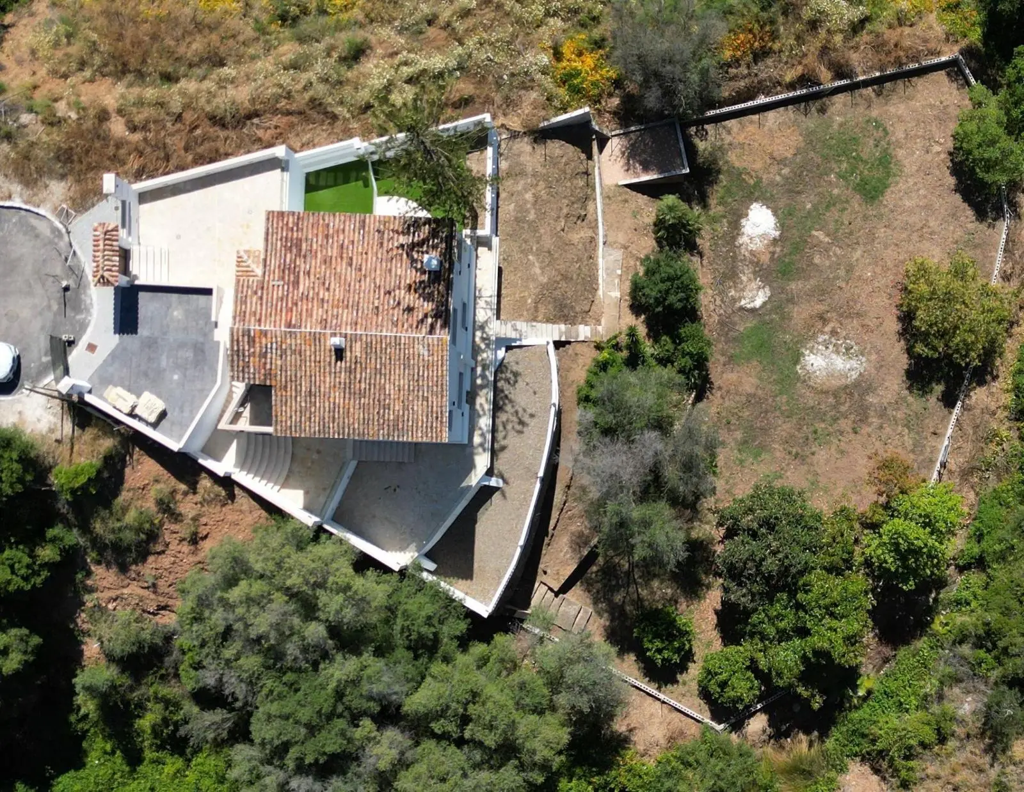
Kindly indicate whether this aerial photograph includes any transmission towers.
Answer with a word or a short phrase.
No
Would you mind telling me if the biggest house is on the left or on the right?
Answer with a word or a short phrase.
left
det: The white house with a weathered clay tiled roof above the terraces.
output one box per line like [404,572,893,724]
[229,211,477,445]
